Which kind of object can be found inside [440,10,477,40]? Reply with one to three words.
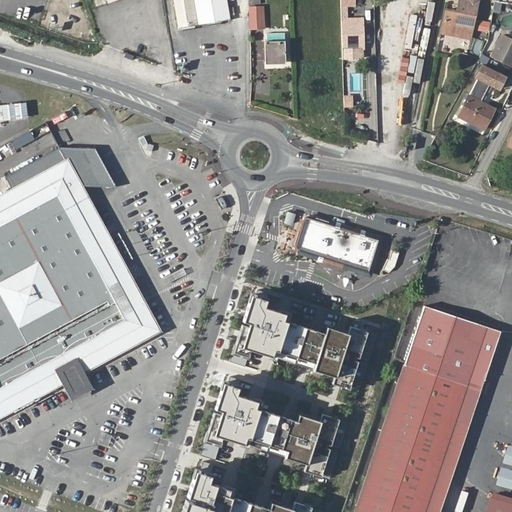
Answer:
house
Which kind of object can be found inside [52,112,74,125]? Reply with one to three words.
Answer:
vehicle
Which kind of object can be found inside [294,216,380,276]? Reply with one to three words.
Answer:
building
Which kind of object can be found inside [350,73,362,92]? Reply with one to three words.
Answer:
swimming pool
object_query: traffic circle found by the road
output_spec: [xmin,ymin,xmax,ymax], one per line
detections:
[220,120,290,190]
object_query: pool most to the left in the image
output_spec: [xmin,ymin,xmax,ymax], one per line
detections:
[264,28,288,41]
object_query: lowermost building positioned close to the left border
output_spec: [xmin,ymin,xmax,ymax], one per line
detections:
[0,148,163,417]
